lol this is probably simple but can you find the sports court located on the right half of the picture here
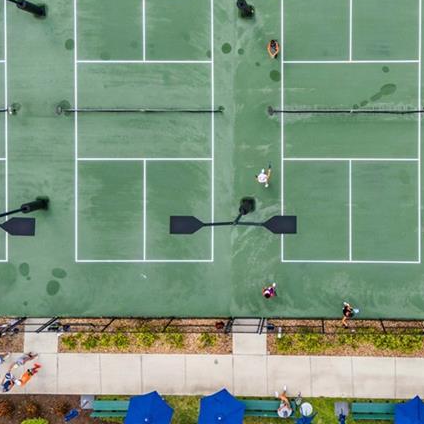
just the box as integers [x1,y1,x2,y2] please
[282,0,422,263]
